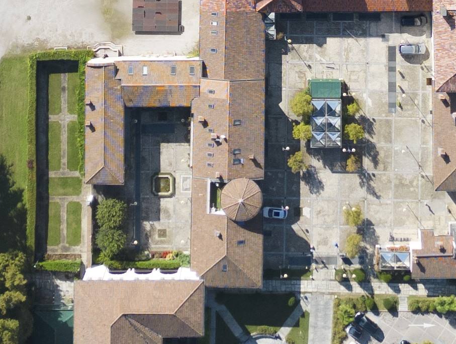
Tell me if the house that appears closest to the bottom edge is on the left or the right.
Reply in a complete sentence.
You can find the house that appears closest to the bottom edge on the left side of the picture.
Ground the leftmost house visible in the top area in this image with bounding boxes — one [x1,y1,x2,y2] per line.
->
[84,55,199,186]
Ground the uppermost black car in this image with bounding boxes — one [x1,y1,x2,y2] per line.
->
[400,12,429,26]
